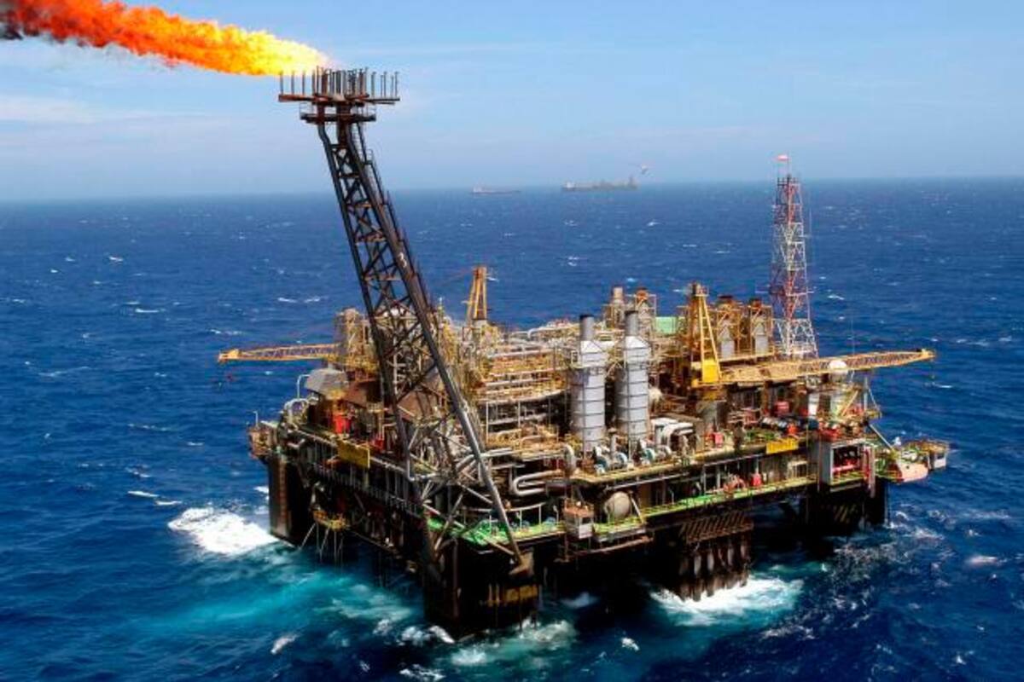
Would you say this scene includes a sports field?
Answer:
No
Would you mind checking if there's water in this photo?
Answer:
Yes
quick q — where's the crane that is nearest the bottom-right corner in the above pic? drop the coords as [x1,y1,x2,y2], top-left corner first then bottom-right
[684,283,934,431]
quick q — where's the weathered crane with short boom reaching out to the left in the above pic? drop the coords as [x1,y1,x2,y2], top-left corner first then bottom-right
[220,306,381,395]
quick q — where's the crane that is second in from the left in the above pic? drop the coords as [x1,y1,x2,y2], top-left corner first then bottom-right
[382,262,501,357]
